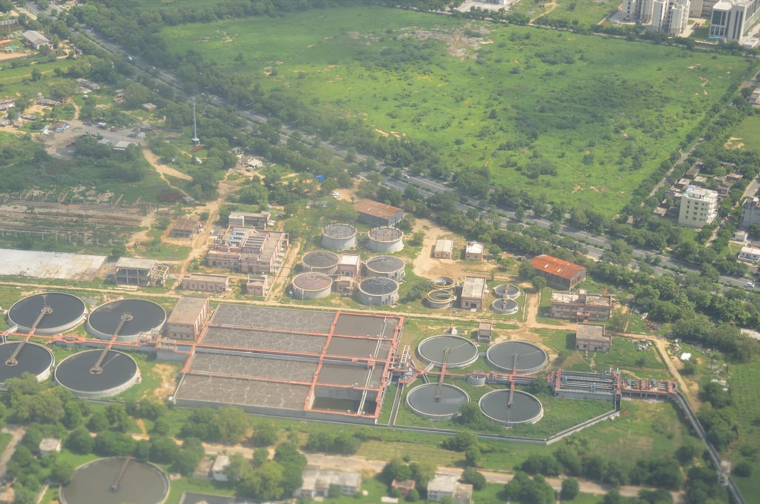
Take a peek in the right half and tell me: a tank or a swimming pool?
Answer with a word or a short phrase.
tank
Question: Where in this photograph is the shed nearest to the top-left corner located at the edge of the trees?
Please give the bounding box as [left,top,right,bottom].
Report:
[19,30,51,50]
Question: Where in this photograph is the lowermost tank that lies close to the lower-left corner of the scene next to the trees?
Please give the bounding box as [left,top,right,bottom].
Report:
[58,451,171,504]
